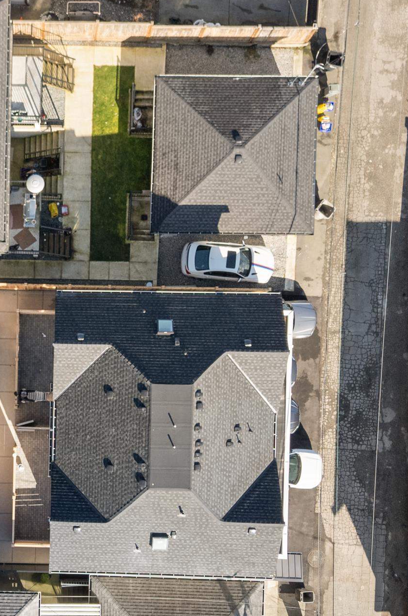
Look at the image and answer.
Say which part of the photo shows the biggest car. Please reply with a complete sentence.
The biggest car sits in the center section of the image.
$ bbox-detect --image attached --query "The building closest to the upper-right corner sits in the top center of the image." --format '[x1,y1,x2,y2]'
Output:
[147,52,331,238]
